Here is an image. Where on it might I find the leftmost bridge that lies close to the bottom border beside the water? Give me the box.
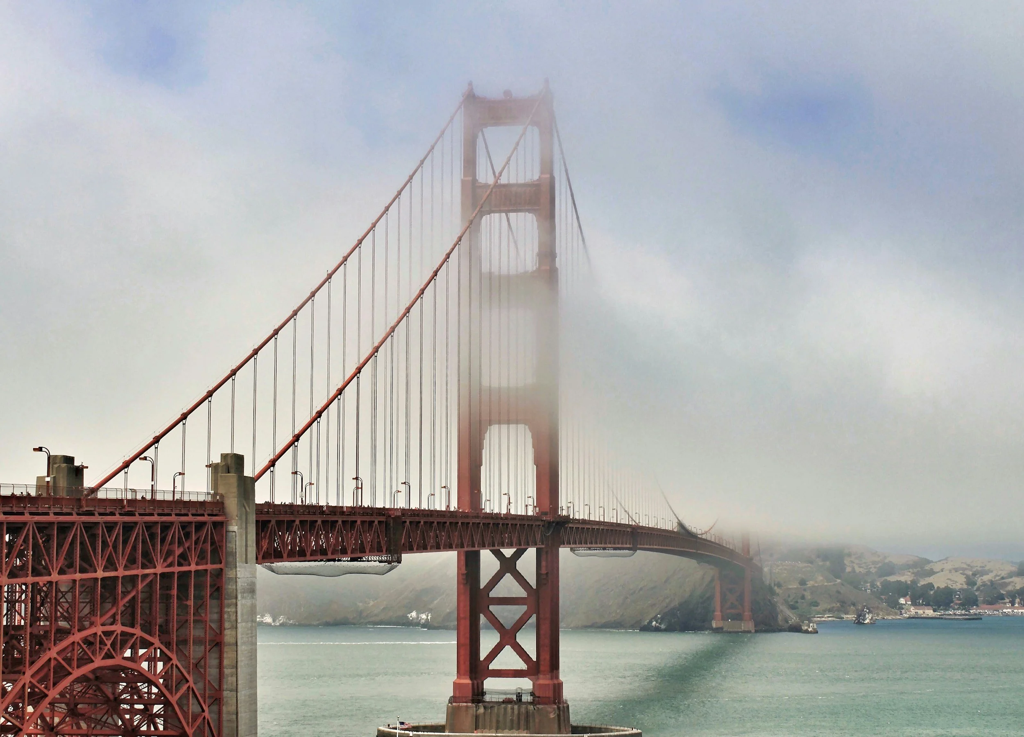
[0,495,228,737]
